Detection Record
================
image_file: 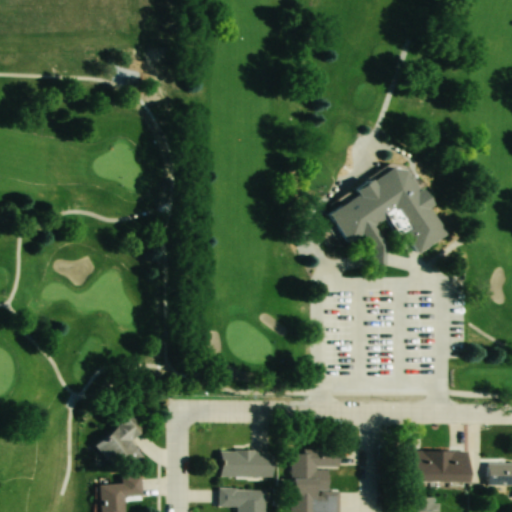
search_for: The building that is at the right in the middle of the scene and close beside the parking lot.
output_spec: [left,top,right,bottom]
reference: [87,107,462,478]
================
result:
[330,168,448,269]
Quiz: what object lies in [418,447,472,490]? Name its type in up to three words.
house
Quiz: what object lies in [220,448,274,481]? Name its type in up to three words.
house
